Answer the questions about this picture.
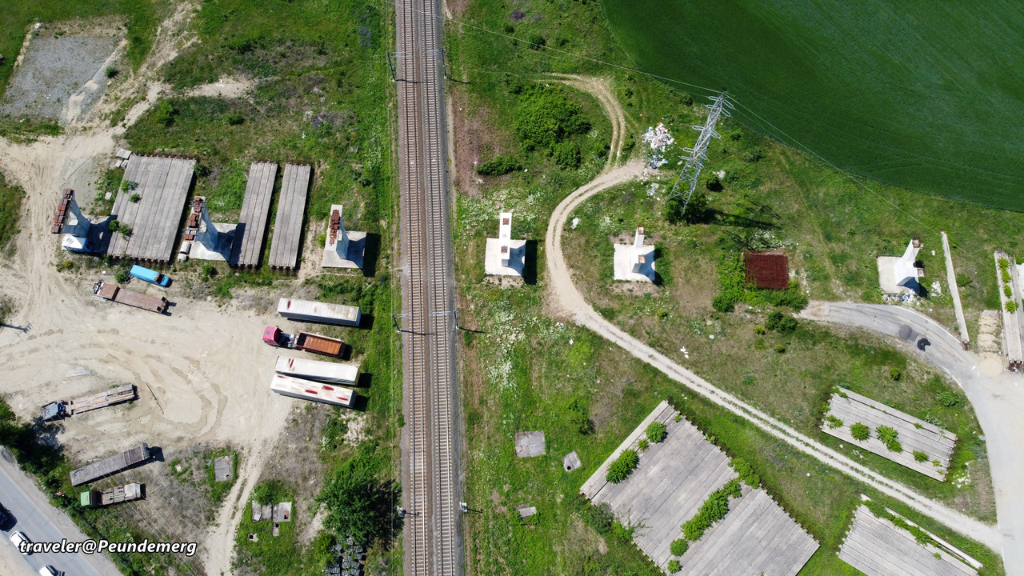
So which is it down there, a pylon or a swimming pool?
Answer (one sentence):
The one in the frame is a pylon.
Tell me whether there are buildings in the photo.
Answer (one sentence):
No, the photo shows no building.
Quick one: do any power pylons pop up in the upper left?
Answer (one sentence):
No, looking in the upper left, there is no power pylon.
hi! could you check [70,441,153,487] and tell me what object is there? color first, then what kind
gray trailer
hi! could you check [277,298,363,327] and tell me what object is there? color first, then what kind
white trailer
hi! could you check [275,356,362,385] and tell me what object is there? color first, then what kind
white trailer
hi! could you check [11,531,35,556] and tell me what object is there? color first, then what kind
white car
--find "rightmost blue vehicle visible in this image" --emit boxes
[130,264,170,289]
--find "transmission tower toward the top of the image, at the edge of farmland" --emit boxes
[660,97,737,225]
